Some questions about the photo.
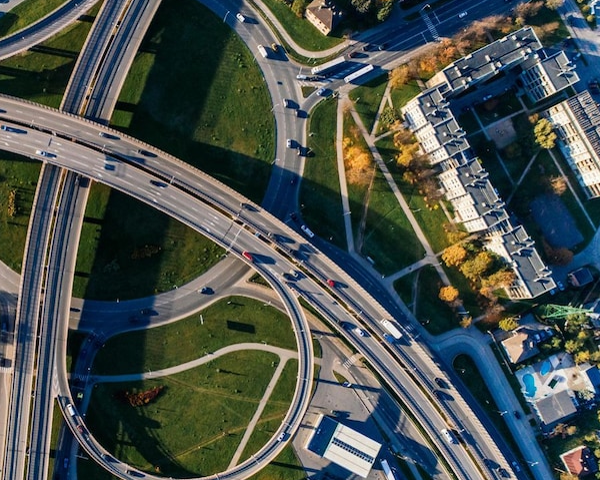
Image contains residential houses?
Yes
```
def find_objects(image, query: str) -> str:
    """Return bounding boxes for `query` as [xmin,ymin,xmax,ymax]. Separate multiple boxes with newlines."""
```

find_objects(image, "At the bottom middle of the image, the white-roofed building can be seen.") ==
[302,413,381,477]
